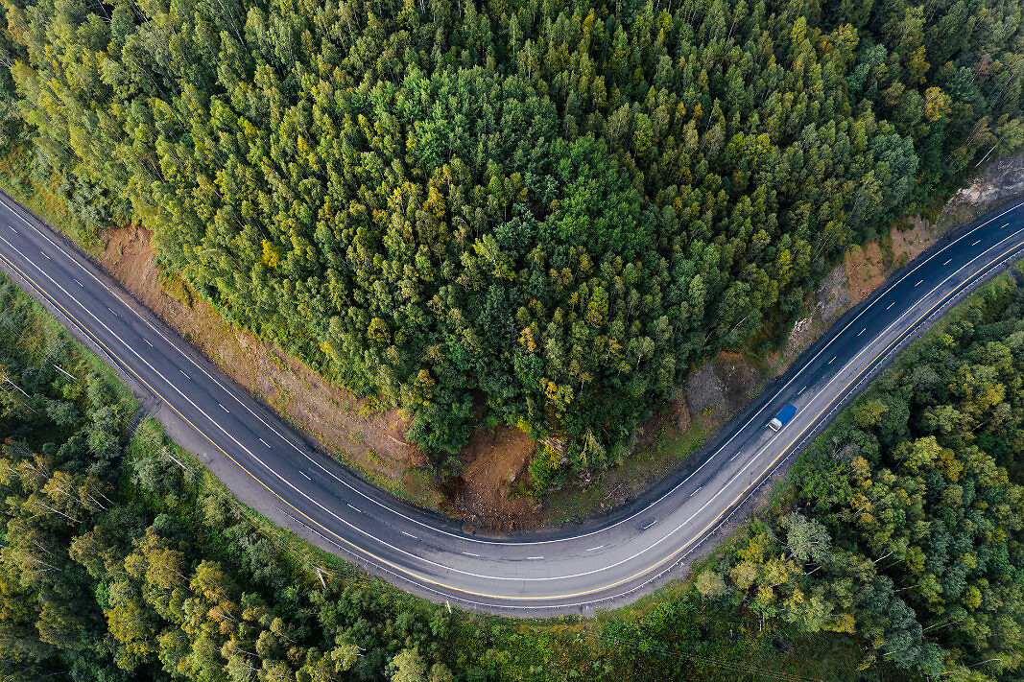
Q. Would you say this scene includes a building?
No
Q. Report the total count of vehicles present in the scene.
1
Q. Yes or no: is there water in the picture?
No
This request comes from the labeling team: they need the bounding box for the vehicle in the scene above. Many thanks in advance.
[770,401,797,428]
